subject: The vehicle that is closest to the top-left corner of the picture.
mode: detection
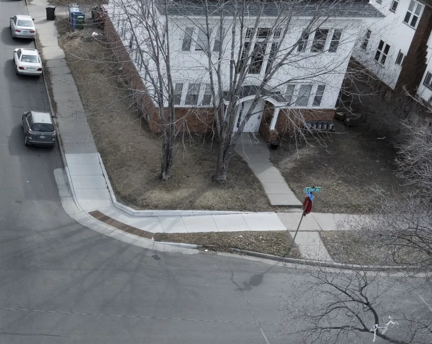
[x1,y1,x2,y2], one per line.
[8,13,35,39]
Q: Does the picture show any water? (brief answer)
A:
No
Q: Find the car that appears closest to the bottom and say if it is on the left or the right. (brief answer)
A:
left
